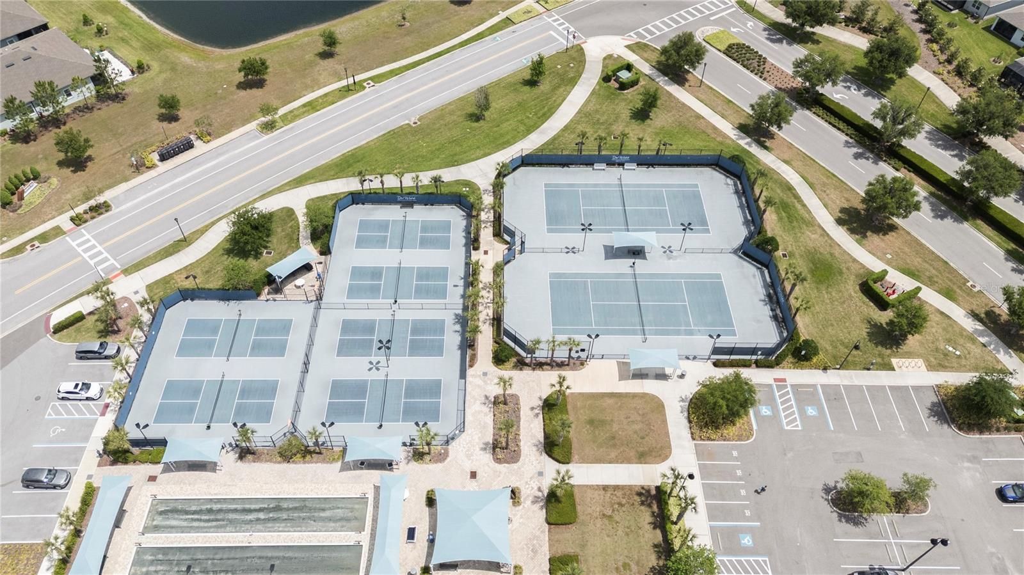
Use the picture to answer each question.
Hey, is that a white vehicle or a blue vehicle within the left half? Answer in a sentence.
You can see a white vehicle within the left half.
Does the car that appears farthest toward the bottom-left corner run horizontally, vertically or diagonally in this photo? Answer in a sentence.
From this overhead view, the car that appears farthest toward the bottom-left corner appears to run horizontally.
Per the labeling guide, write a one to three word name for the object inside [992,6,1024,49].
house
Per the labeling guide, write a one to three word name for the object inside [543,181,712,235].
tennis court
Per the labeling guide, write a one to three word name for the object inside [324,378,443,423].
sports court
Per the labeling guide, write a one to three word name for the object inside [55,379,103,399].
car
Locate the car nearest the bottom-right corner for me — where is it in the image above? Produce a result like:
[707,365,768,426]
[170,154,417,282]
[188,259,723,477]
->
[996,483,1024,505]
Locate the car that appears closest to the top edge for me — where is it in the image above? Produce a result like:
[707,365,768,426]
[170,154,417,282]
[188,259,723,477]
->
[73,338,120,358]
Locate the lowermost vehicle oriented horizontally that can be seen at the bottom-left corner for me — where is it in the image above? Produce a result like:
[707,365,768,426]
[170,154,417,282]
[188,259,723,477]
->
[18,465,72,488]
